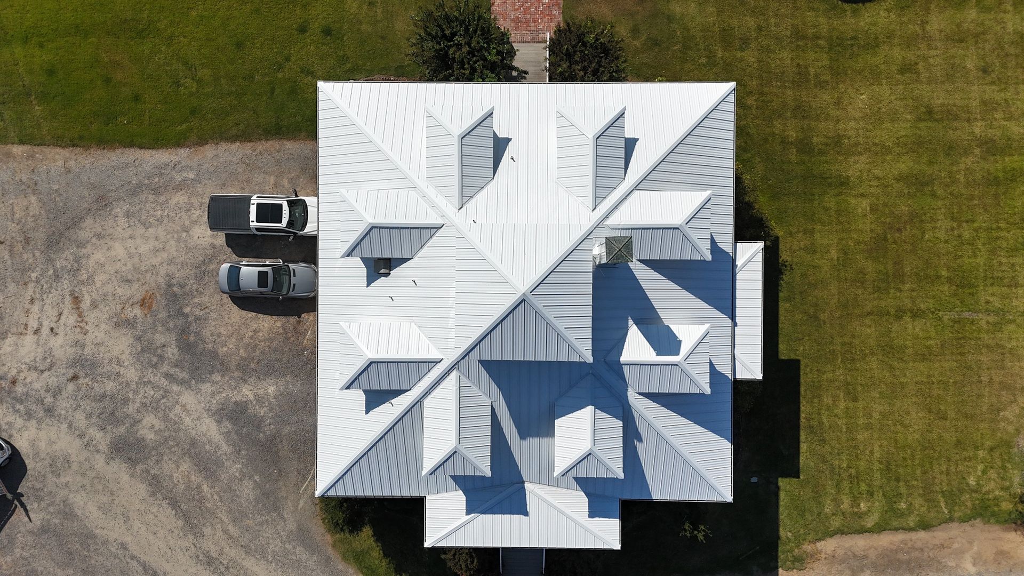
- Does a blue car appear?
No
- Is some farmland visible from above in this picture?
No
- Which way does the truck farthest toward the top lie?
from left to right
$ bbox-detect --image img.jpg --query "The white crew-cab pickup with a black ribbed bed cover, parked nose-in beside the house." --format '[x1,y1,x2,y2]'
[206,185,318,242]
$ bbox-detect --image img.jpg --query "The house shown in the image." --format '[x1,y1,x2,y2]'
[316,82,763,550]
